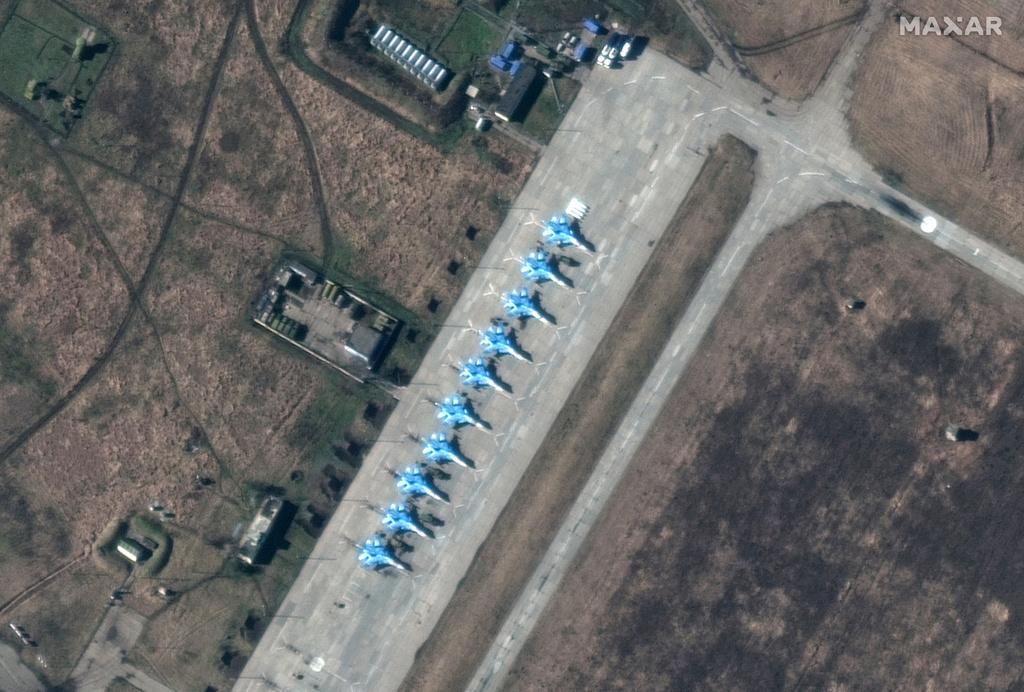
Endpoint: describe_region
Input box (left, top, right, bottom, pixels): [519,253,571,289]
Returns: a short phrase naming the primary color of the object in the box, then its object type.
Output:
blue airplane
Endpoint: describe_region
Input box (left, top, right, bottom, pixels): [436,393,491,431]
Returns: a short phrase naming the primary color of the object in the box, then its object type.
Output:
blue airplane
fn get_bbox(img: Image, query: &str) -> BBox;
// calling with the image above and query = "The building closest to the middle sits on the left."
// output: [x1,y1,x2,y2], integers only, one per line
[345,323,384,363]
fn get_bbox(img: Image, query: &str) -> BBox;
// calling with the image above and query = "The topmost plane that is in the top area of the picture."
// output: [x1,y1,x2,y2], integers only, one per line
[539,217,594,255]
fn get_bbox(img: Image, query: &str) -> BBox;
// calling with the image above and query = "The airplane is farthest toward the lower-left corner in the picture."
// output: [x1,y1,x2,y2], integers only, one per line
[354,535,409,574]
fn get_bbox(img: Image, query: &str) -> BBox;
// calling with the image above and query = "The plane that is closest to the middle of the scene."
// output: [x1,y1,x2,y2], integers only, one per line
[478,323,533,362]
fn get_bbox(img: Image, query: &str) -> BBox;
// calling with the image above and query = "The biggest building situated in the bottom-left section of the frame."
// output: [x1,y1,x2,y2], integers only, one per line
[237,497,286,566]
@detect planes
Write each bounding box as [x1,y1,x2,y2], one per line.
[539,217,594,255]
[354,535,409,574]
[478,323,533,362]
[499,286,553,325]
[519,253,571,289]
[396,463,450,503]
[375,500,429,538]
[458,359,511,397]
[436,393,491,431]
[417,429,469,467]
